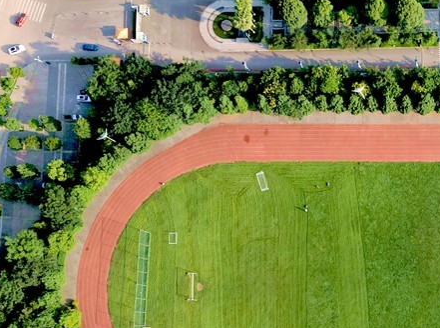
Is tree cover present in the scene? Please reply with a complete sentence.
Yes, the picture does contain tree cover.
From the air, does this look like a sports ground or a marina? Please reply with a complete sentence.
What you see here is a sports ground.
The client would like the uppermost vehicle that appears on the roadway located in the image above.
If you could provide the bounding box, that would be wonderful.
[12,11,25,27]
